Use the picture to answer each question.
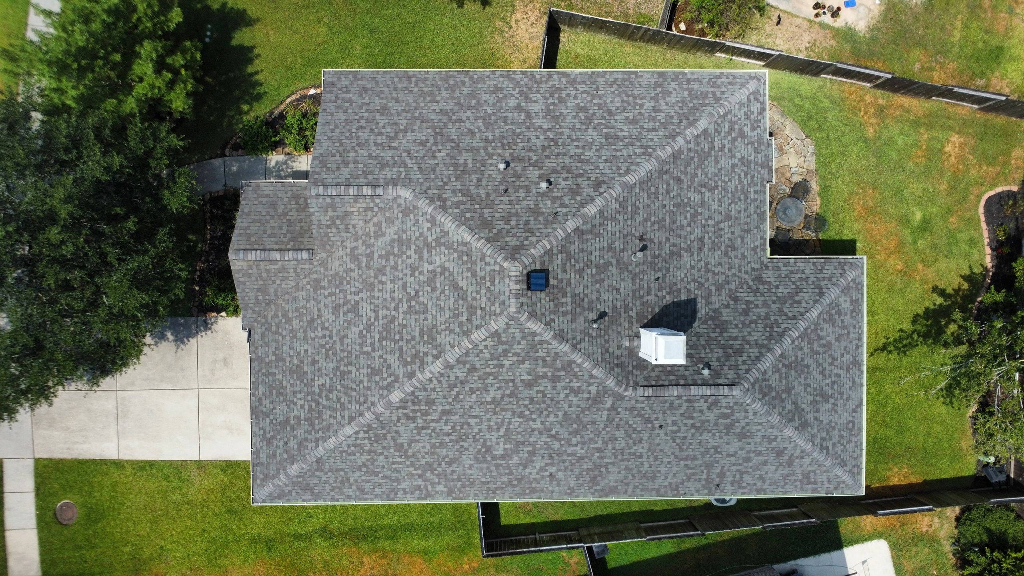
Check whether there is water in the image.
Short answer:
No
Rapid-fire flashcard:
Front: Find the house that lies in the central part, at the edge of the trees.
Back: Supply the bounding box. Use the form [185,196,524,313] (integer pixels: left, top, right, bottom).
[229,69,866,504]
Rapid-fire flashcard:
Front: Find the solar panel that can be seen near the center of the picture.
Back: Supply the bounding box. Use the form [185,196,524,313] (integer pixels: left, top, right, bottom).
[531,272,546,290]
